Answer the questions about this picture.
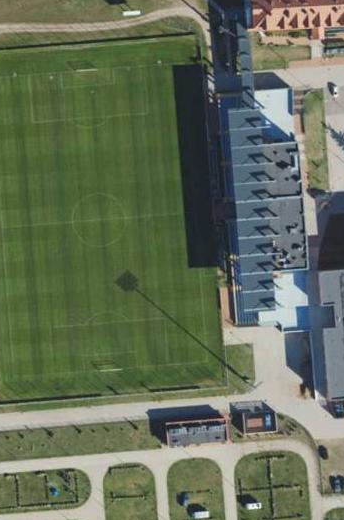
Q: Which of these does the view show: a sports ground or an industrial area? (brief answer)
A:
sports ground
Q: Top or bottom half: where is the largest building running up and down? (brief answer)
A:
top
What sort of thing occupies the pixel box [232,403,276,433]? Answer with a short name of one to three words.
building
